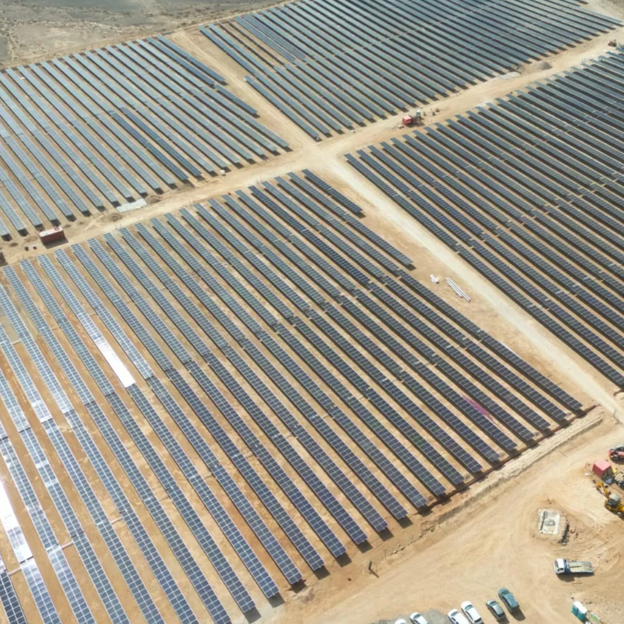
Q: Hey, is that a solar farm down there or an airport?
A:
solar farm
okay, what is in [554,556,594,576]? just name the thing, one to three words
vehicle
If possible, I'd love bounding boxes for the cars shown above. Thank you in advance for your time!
[487,600,507,622]
[411,612,429,624]
[449,608,470,624]
[499,587,521,613]
[462,601,483,624]
[396,618,410,624]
